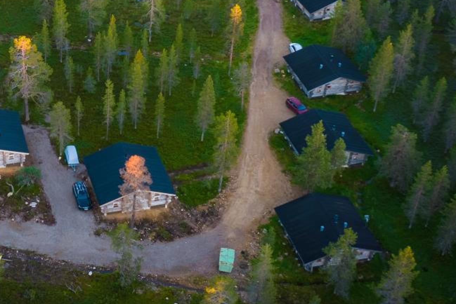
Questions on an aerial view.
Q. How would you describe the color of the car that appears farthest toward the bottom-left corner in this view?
blue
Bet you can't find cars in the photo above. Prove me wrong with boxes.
[286,38,307,53]
[281,91,314,115]
[70,177,94,212]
